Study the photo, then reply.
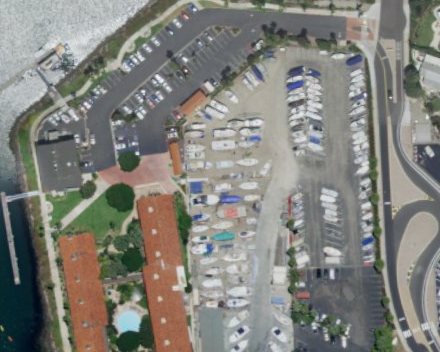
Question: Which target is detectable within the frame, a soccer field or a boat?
boat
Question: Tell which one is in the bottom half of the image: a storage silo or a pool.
pool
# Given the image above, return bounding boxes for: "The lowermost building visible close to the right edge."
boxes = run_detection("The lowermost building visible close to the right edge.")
[414,123,432,142]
